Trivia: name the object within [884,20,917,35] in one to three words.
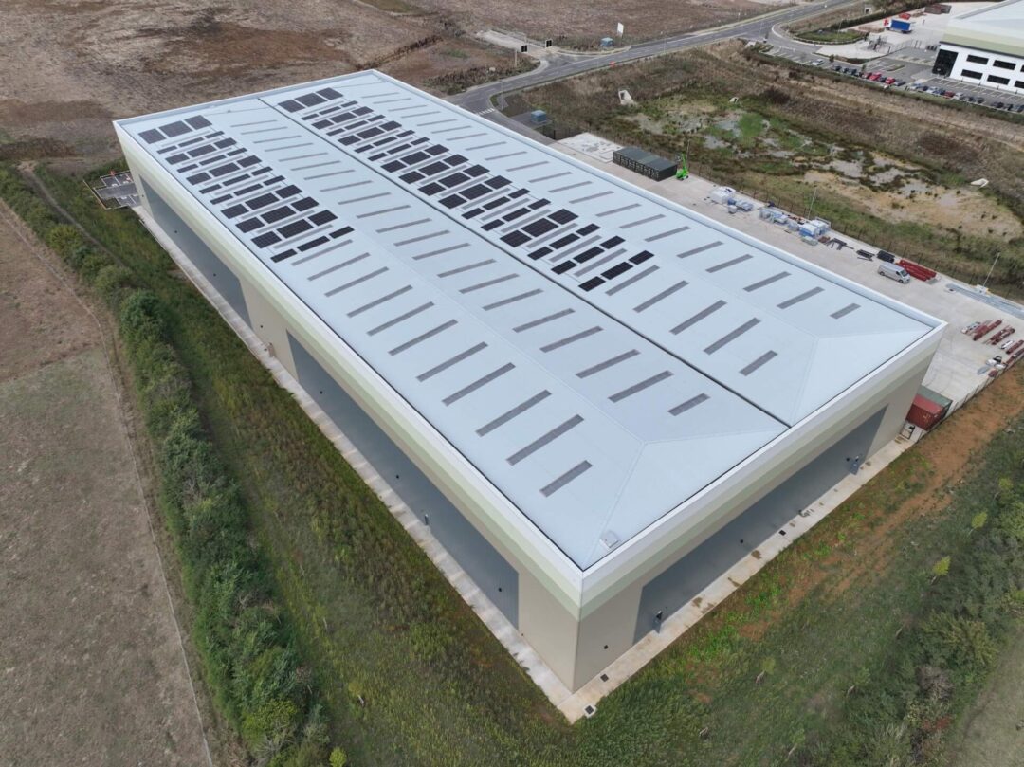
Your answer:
vehicle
